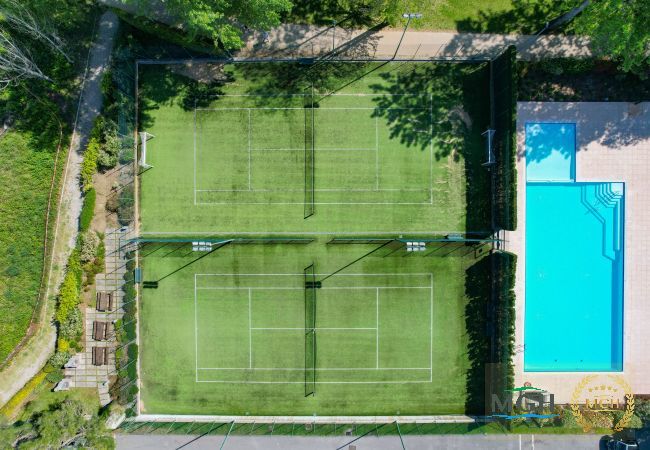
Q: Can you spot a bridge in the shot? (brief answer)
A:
No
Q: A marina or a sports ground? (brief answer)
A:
sports ground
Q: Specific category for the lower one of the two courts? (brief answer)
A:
tennis court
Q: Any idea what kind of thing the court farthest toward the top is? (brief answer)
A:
tennis court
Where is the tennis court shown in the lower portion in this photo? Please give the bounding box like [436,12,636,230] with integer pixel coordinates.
[139,236,492,415]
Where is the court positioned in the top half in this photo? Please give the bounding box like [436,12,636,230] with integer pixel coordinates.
[139,62,492,236]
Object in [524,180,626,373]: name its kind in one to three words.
swimming pool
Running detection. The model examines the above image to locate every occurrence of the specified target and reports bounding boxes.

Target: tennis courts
[139,236,492,415]
[139,62,492,236]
